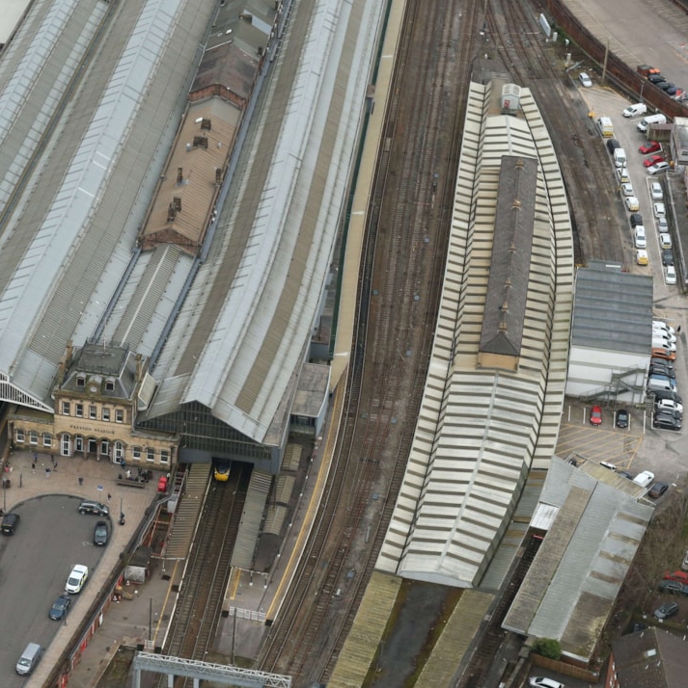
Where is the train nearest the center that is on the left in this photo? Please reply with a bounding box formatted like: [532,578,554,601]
[214,459,235,480]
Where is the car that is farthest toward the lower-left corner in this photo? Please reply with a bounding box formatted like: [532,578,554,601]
[18,645,39,673]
